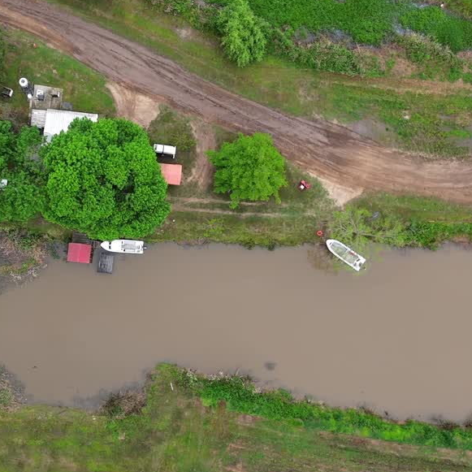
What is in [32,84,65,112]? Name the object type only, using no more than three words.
shed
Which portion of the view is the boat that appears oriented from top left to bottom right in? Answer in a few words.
right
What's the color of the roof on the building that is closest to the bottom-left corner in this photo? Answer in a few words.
red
